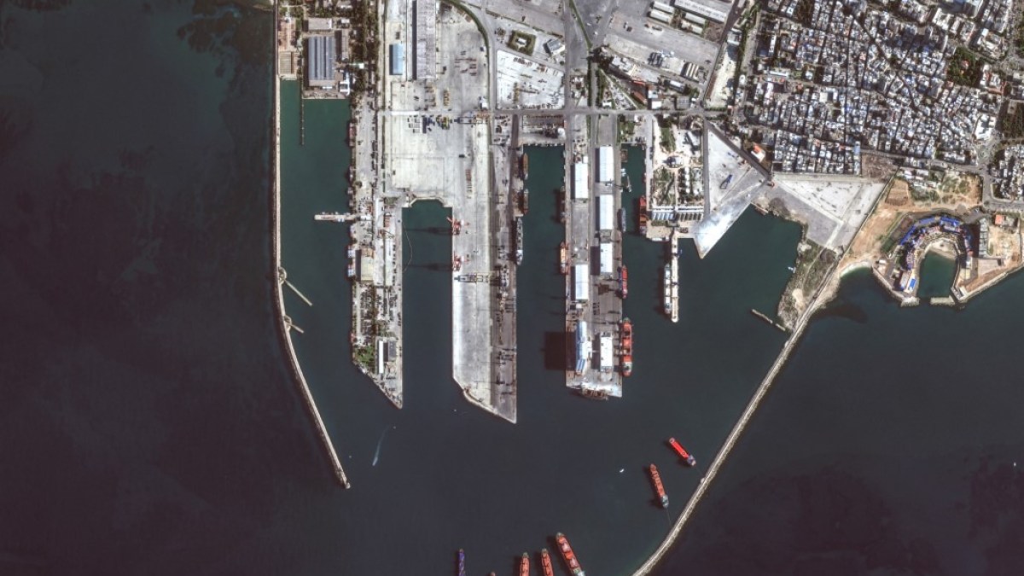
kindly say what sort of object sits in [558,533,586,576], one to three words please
ship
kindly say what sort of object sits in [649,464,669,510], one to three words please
ship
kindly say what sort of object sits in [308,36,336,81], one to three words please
building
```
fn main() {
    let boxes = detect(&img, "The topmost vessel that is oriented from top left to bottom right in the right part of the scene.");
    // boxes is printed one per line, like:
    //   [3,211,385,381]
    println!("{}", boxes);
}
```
[672,436,695,468]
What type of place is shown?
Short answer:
port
